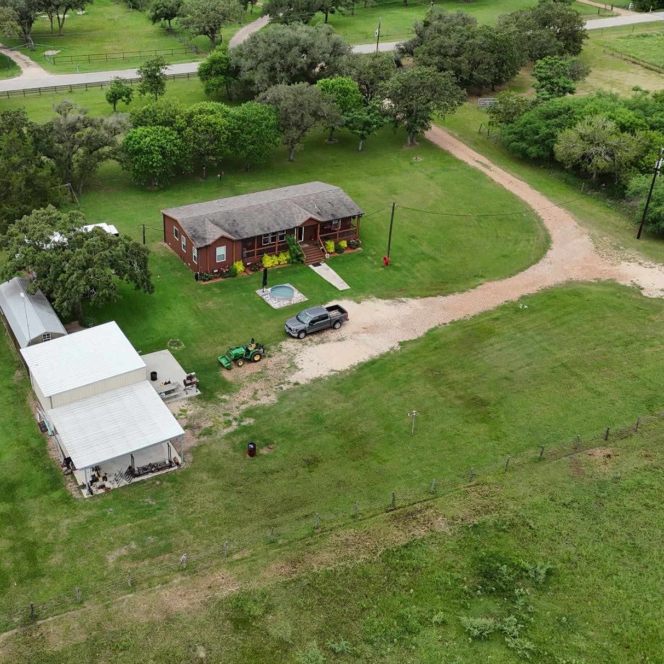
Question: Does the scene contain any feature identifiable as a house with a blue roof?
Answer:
No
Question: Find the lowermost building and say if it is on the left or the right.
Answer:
left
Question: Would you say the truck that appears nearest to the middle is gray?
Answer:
Yes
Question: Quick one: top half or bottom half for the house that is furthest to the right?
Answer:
top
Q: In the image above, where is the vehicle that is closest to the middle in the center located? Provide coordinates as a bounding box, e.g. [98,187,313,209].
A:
[280,303,350,340]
